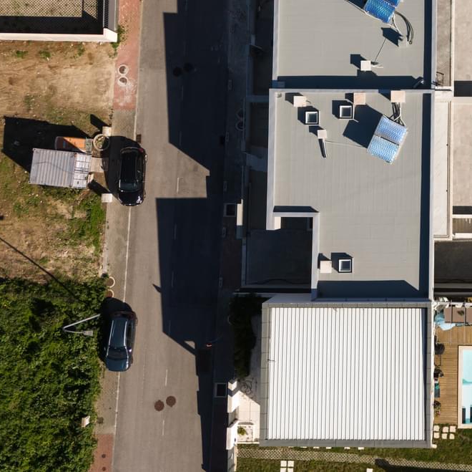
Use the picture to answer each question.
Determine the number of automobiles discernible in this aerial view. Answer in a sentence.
In total, there are 2 automobiles in the scene.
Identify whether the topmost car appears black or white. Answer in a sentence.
In this view, the topmost car is black.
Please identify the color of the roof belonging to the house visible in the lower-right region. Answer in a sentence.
The roof of the house visible in the lower-right region is white.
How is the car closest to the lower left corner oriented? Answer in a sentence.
In this picture, the car closest to the lower left corner is oriented vertically.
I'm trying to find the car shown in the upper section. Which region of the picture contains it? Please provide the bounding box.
[114,142,148,206]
